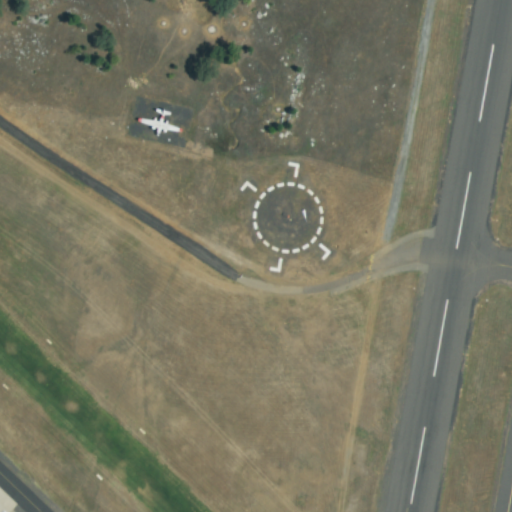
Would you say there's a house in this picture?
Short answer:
No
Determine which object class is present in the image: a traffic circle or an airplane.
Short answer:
airplane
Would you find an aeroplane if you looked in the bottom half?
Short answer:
No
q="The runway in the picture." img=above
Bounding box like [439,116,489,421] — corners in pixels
[384,0,512,512]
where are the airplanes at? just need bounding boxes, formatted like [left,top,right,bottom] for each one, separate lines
[138,108,183,136]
